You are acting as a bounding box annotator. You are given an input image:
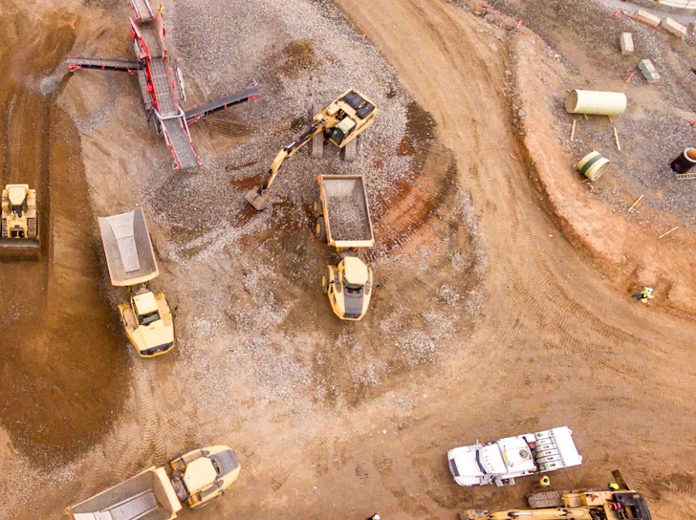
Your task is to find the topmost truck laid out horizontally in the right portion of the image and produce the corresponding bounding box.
[443,429,581,487]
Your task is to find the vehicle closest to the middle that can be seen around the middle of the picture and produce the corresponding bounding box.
[316,176,379,322]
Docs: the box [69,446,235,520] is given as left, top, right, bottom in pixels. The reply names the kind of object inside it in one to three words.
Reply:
truck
